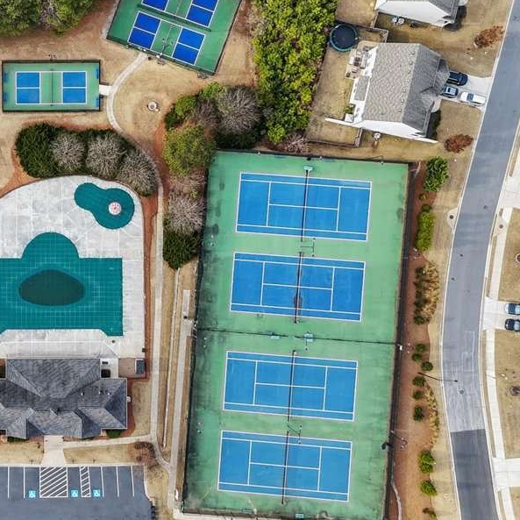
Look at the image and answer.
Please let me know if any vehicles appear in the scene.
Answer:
Yes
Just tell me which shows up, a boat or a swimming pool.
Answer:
swimming pool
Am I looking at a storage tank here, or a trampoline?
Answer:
trampoline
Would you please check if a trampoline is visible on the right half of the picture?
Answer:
Yes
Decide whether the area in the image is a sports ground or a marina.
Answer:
sports ground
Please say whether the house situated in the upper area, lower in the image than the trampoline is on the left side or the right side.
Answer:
right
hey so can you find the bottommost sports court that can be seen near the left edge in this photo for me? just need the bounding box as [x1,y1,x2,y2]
[4,63,100,111]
